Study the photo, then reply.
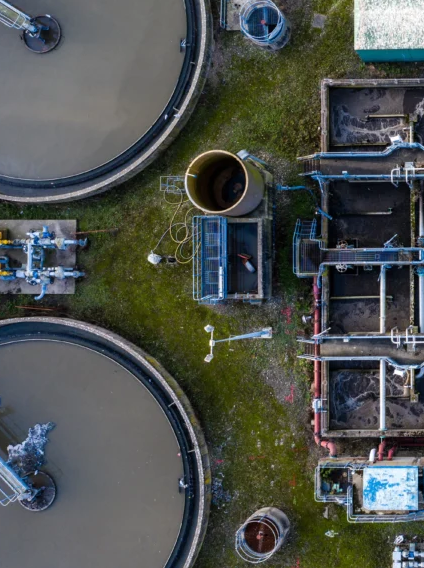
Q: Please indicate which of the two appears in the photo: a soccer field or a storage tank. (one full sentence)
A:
There is a storage tank in the scene.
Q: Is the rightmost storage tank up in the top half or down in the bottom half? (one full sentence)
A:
The top half of the photo is where the rightmost storage tank is.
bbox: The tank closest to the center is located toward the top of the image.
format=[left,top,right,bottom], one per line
[160,149,274,218]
